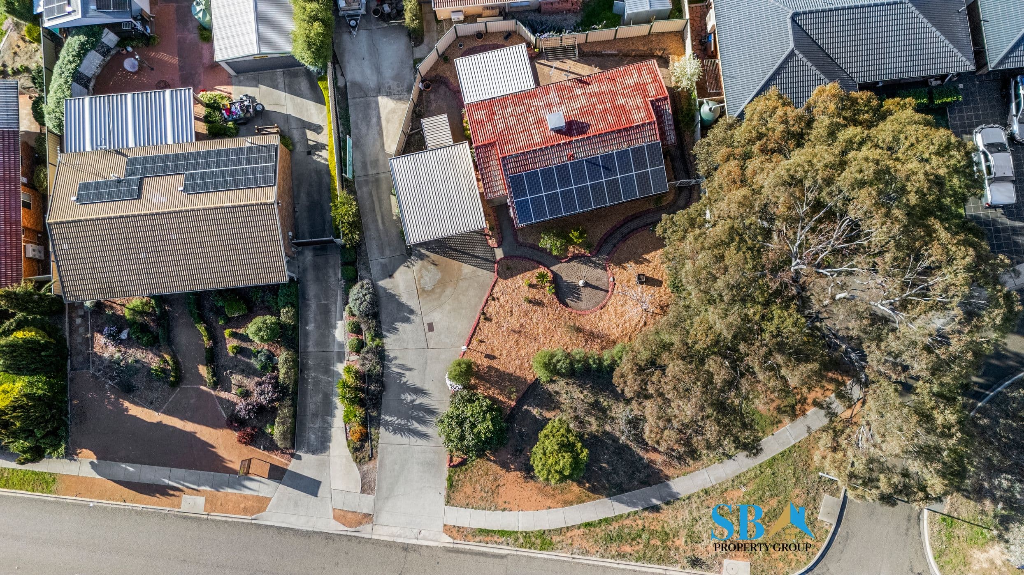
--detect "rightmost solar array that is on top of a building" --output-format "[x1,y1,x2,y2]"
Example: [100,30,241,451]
[509,144,667,225]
